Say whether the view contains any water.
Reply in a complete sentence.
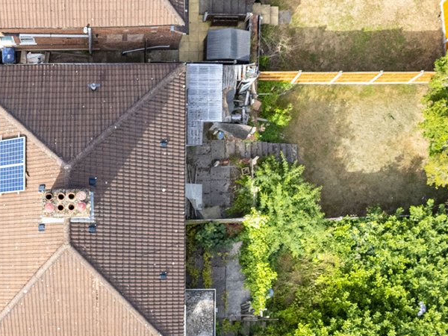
No, the scene doesn't show any water.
